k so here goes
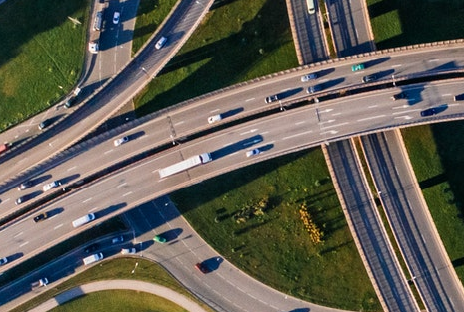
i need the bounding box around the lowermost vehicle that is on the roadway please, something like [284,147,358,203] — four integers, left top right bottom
[28,275,52,291]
